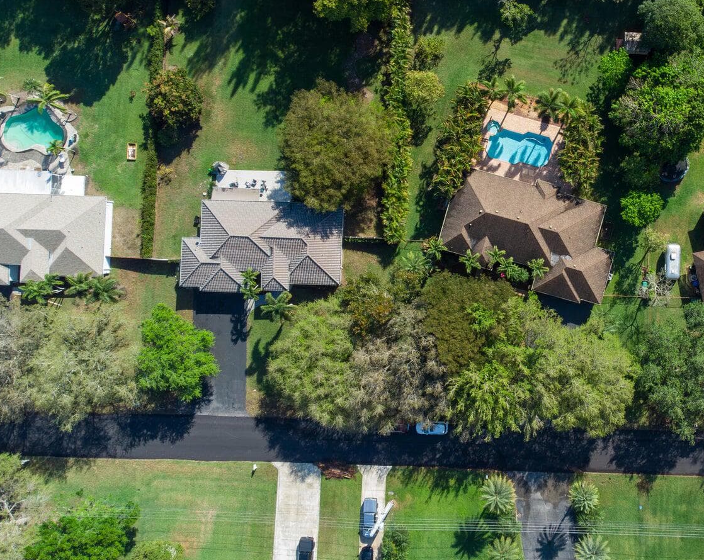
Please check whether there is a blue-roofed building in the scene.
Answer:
No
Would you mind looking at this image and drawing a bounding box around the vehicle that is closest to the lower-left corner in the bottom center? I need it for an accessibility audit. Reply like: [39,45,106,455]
[299,535,316,560]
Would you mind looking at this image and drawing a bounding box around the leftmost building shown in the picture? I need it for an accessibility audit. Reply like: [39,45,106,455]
[0,193,114,284]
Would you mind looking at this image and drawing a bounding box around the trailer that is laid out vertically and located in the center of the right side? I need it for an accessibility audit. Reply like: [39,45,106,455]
[663,237,682,280]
